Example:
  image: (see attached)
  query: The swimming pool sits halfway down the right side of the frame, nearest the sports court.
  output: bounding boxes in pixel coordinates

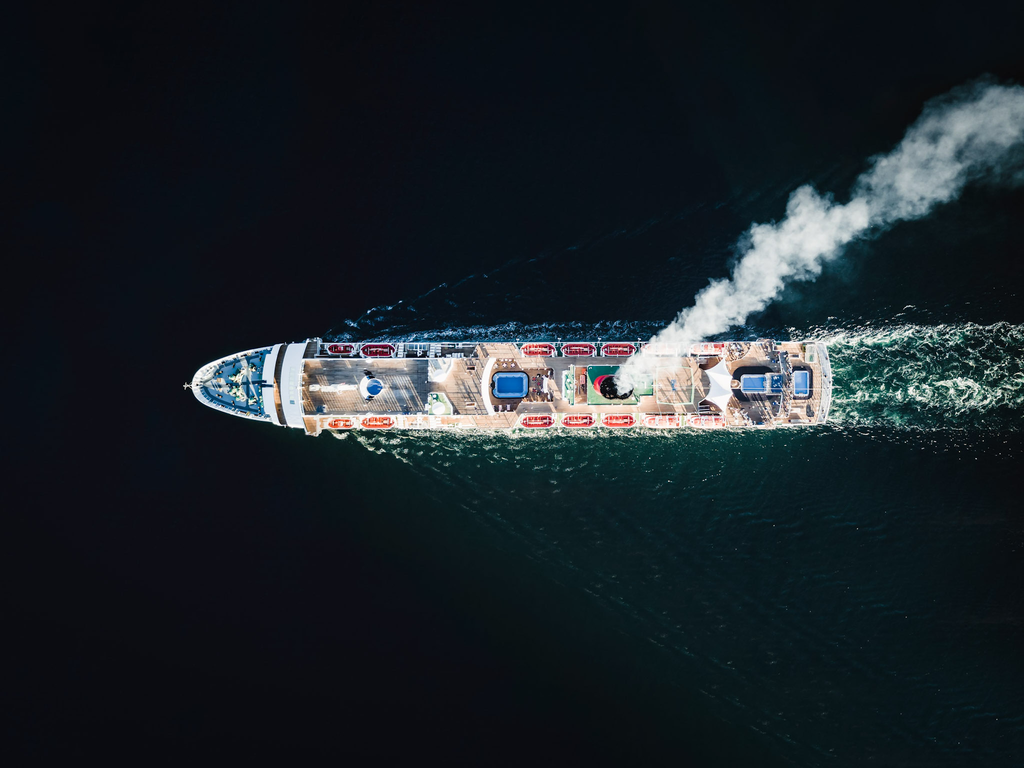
[740,375,766,393]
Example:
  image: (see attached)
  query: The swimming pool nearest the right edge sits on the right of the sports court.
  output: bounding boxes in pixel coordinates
[794,371,809,396]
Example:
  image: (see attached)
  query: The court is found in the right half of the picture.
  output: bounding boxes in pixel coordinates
[651,366,700,416]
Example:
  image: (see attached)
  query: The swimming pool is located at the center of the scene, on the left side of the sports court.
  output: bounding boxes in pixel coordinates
[489,371,529,398]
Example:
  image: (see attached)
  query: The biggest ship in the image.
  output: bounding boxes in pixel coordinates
[183,337,839,436]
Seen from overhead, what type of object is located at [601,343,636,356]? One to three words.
boat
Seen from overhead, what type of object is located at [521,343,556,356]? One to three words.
boat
